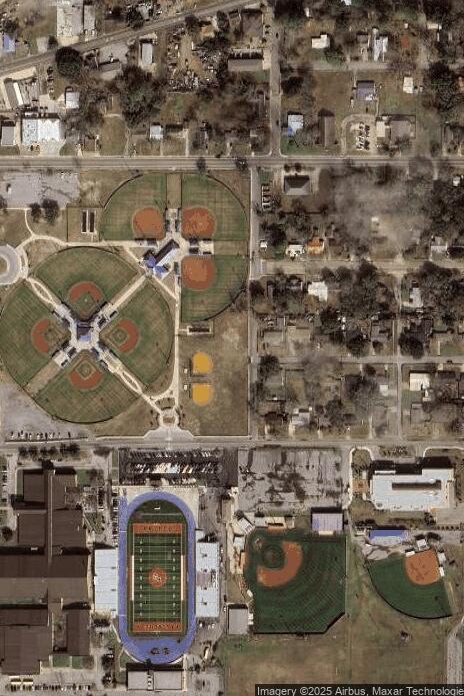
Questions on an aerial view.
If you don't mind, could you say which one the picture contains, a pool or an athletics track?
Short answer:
athletics track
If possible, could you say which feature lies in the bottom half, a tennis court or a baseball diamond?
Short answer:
baseball diamond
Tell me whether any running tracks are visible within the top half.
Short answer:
No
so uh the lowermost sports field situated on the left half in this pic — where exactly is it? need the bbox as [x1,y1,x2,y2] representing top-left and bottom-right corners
[126,500,188,635]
